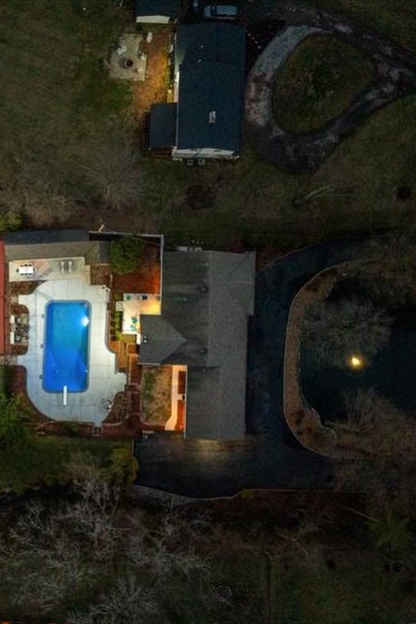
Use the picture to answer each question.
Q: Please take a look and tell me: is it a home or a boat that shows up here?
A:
home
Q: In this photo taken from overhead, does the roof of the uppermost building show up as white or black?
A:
black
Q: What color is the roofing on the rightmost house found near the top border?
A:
black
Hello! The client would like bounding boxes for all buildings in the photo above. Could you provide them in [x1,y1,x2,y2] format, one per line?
[173,21,245,158]
[4,229,96,263]
[135,251,256,439]
[135,0,179,25]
